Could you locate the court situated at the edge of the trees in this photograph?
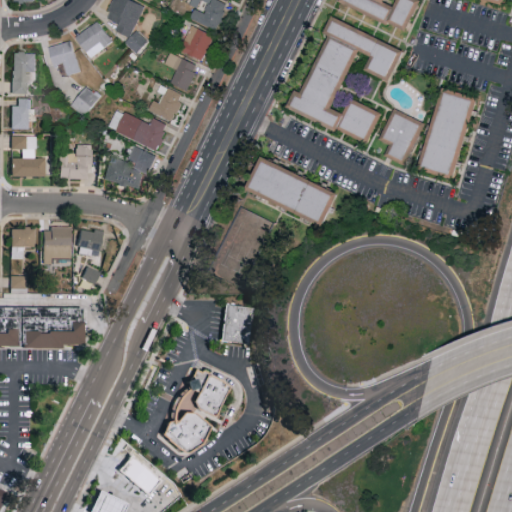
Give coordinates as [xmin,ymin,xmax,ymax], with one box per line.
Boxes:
[214,206,276,284]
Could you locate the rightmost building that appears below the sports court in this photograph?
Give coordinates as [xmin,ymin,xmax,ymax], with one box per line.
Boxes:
[222,302,254,346]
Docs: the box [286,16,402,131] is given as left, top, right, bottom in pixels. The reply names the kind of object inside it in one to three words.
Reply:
building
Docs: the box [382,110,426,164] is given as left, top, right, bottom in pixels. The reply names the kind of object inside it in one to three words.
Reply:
building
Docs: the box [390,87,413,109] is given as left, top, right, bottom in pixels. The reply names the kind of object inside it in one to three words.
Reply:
swimming pool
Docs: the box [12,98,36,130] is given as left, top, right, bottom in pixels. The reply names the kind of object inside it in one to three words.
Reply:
house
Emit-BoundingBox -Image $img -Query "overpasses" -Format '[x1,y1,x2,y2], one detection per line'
[418,320,512,420]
